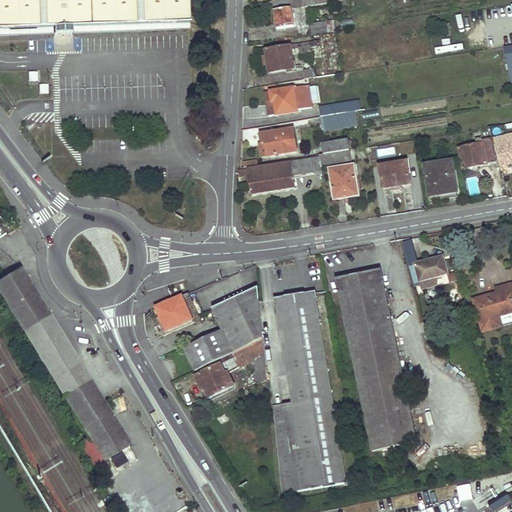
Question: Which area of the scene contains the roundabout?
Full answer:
The roundabout is located in the left region of the scene.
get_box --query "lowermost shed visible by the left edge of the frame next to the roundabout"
[0,266,128,460]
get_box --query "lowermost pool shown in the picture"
[466,176,481,196]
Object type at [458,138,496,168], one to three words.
house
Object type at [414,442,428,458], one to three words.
vehicle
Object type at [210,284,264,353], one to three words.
building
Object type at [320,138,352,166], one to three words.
shed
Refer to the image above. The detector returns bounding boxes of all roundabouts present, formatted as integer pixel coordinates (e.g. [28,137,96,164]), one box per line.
[48,208,196,319]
